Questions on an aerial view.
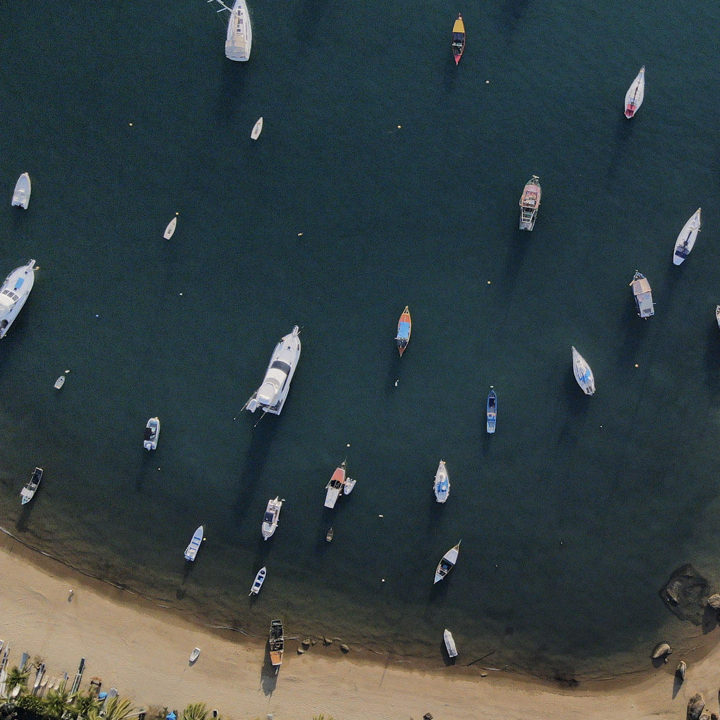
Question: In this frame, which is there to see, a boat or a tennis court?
boat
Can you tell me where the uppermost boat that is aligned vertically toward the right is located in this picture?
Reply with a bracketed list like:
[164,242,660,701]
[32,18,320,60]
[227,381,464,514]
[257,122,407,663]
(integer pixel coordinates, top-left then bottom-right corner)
[451,13,465,67]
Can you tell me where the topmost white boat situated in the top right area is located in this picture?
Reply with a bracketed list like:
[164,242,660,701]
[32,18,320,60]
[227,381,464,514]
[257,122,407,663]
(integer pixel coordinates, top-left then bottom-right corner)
[625,65,646,121]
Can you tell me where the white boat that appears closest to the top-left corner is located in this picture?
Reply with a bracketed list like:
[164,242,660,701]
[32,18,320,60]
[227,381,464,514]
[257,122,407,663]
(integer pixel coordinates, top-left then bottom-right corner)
[13,173,35,211]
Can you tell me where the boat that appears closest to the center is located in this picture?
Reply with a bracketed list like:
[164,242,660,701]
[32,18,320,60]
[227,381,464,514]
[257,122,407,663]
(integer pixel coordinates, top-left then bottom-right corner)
[393,306,412,356]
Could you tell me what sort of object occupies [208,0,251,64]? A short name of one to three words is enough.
boat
